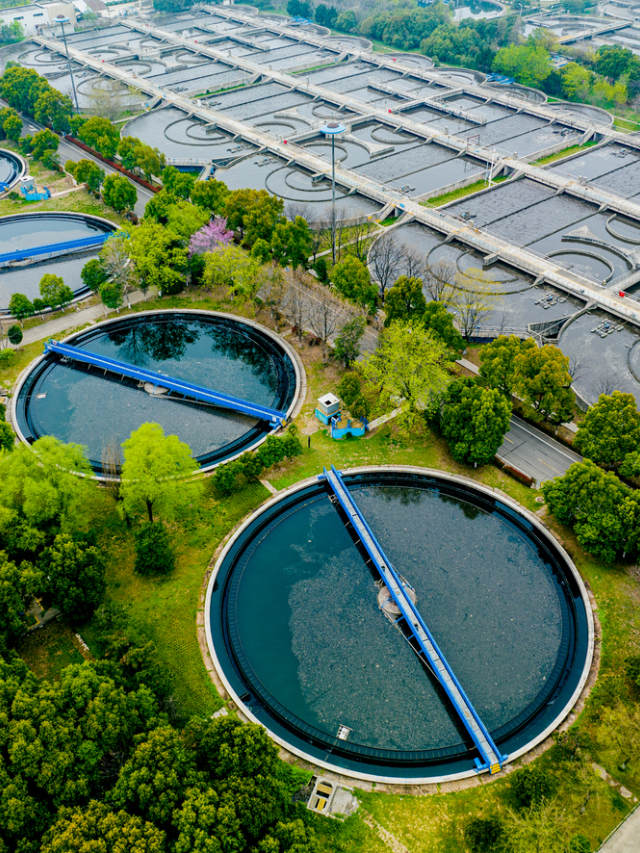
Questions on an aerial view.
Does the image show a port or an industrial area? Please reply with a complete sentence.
This looks like an industrial area.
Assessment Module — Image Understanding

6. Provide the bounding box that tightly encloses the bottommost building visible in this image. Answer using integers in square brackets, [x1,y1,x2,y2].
[314,387,342,423]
